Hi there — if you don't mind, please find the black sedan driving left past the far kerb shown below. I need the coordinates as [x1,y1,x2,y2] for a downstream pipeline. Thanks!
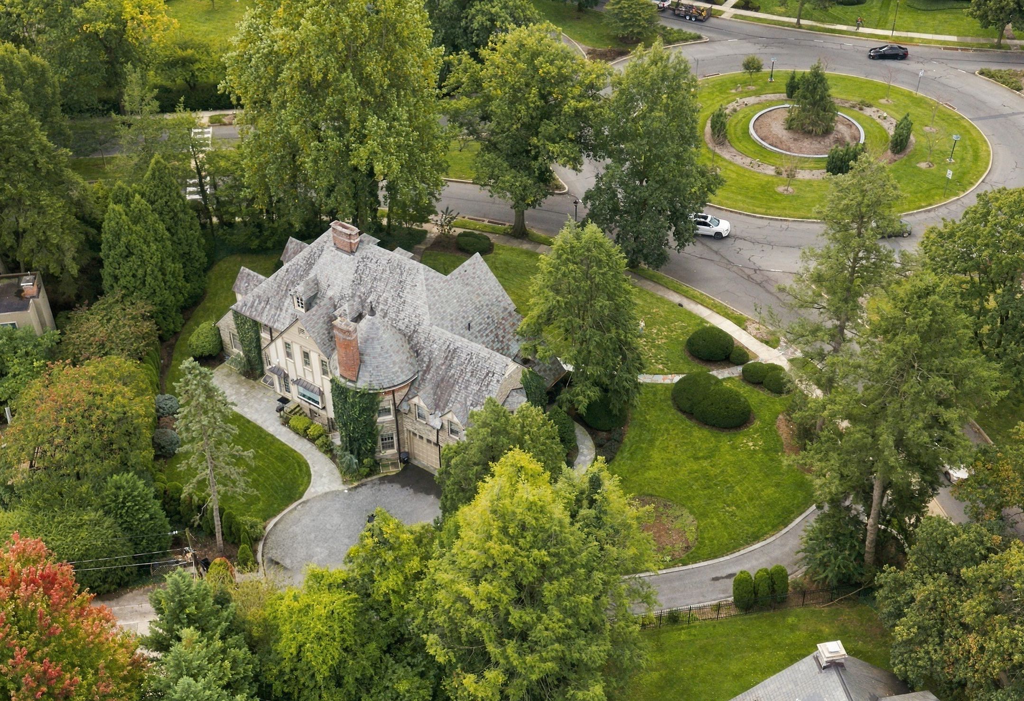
[865,43,909,60]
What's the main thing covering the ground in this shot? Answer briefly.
trees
